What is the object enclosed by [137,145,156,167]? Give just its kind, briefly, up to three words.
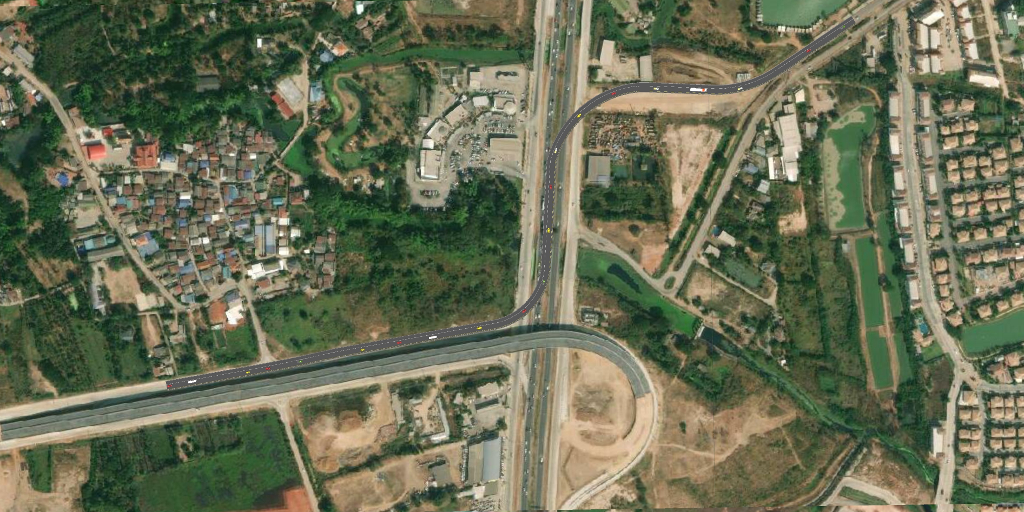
building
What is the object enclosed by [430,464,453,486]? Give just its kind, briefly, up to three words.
building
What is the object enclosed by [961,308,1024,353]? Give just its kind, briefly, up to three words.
pond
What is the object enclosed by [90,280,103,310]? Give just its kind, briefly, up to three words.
house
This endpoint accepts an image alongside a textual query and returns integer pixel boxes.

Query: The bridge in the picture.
[1,331,651,441]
